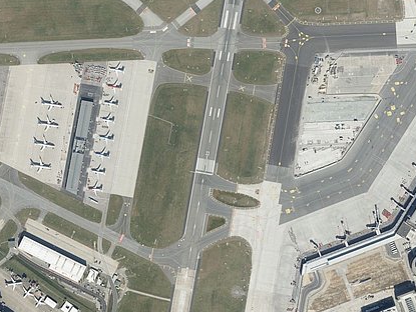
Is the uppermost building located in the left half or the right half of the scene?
left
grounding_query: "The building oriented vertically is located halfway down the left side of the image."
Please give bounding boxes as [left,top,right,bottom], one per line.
[65,93,96,198]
